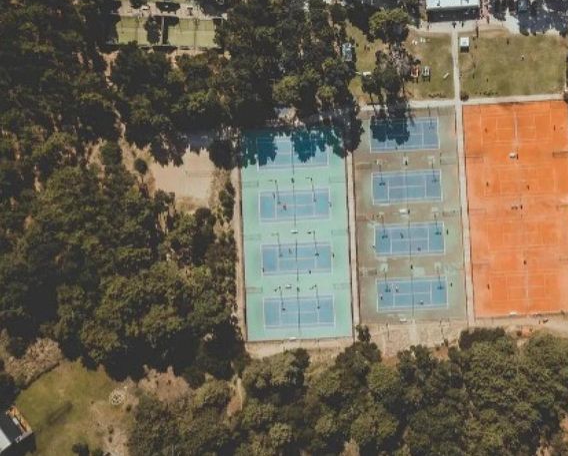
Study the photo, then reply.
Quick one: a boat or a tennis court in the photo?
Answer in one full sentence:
This aerial view contains a tennis court.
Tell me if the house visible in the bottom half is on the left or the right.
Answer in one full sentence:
The house visible in the bottom half is on the left side of the image.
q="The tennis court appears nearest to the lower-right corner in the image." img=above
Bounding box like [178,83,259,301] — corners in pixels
[472,258,568,319]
